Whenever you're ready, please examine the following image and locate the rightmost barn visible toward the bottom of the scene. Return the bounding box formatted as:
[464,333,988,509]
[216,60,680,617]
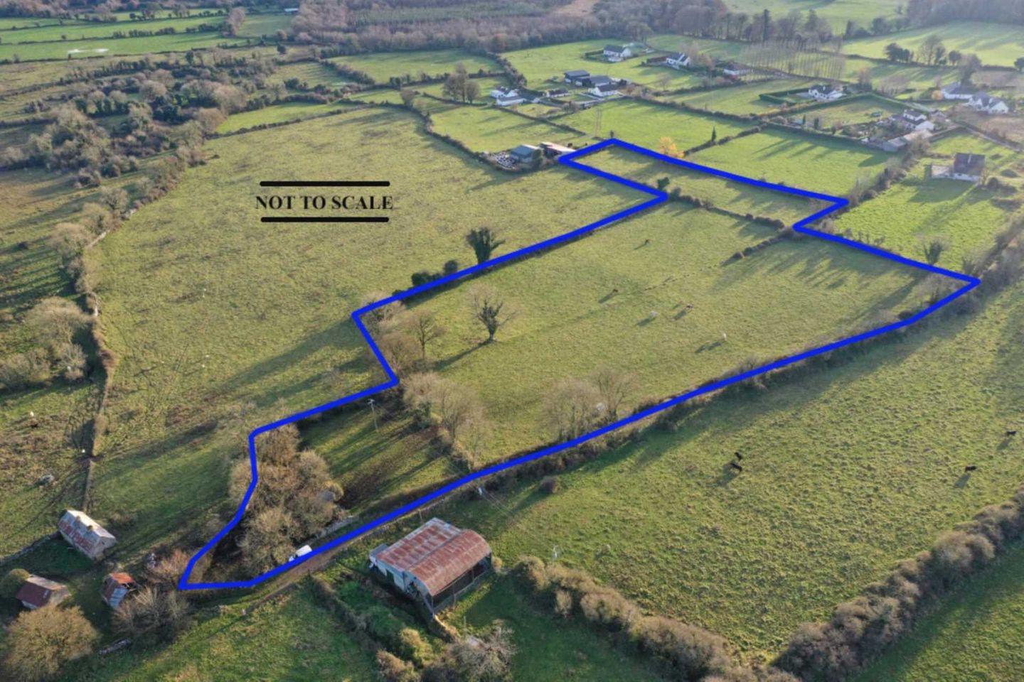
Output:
[377,515,493,613]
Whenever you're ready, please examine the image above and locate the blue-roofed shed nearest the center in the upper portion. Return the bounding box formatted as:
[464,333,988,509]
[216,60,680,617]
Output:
[510,145,537,164]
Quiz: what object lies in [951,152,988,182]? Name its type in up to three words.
house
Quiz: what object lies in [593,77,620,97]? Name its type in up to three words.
house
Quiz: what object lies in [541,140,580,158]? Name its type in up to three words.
shed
